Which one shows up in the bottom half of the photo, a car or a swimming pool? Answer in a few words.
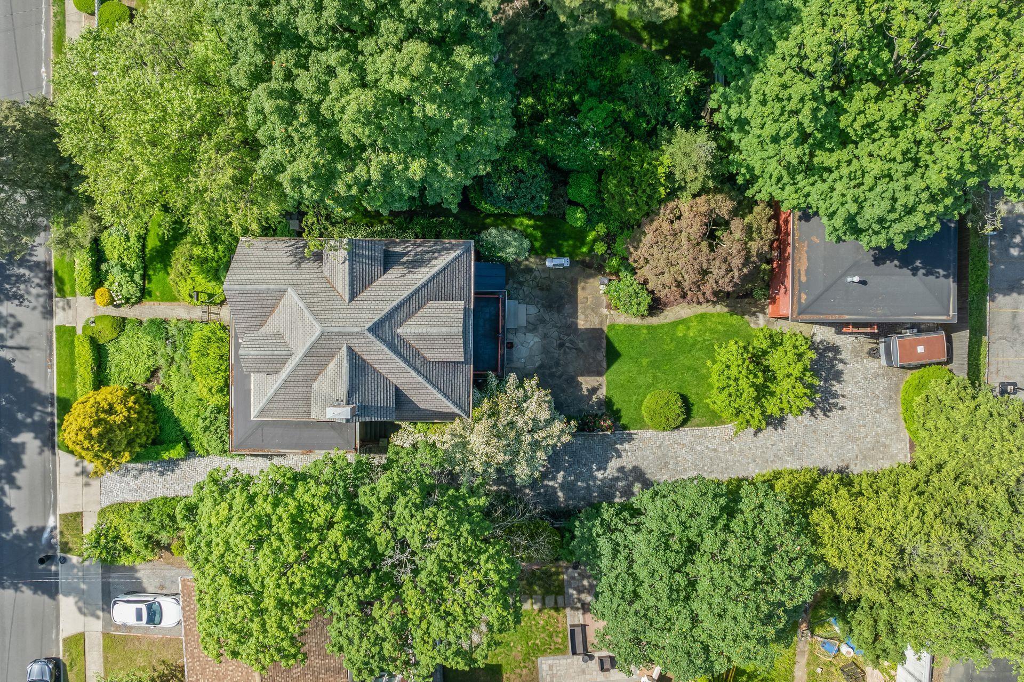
car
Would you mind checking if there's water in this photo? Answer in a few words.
No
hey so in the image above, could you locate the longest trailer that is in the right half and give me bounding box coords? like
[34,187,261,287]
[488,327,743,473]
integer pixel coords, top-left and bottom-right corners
[866,332,954,365]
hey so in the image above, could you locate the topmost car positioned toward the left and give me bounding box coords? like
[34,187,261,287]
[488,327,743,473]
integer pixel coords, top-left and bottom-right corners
[111,591,180,628]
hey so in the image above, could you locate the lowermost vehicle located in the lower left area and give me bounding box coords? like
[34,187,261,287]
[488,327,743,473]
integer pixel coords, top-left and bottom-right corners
[27,656,67,682]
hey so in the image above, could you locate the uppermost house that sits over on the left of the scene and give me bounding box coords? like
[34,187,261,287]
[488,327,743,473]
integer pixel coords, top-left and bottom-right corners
[221,237,527,455]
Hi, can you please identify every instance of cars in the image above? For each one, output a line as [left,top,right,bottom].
[27,656,67,682]
[111,591,180,628]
